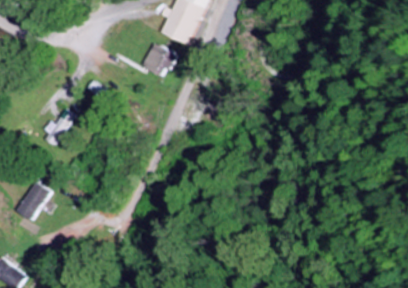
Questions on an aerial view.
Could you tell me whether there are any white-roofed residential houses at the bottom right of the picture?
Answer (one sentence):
No, no white-roofed residential house appears at the bottom right of the picture.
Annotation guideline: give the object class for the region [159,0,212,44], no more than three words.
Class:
house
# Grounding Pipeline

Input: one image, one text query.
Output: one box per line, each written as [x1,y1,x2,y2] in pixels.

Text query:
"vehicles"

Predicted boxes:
[154,4,166,15]
[108,80,118,89]
[108,53,118,62]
